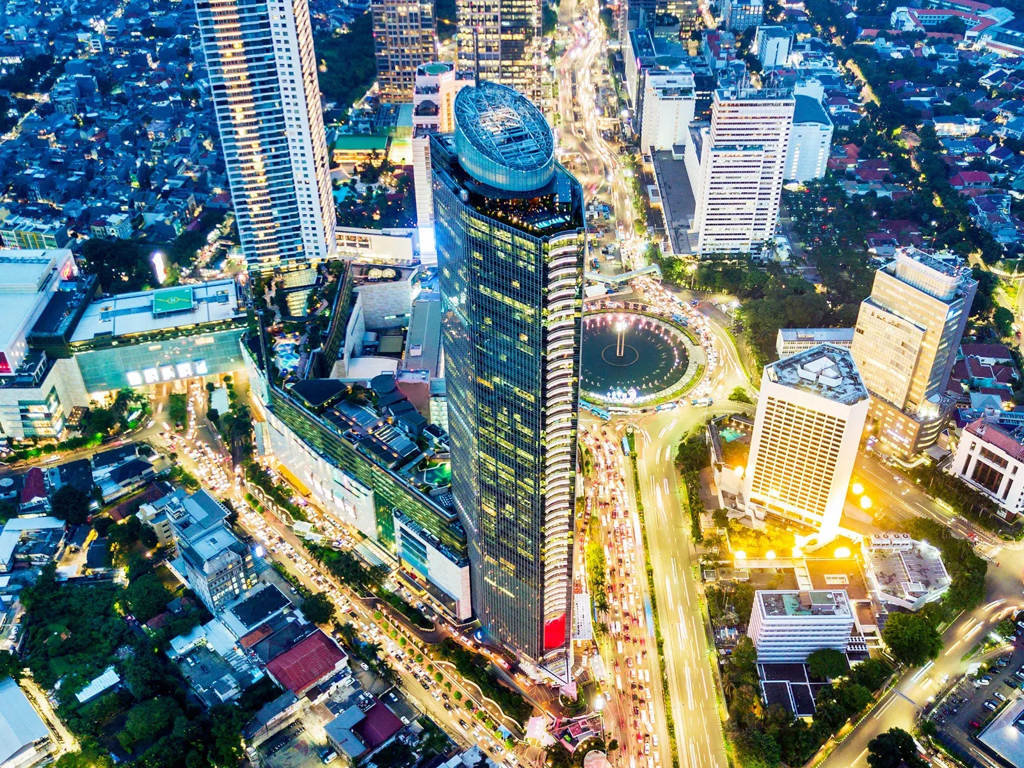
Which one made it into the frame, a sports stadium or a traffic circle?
traffic circle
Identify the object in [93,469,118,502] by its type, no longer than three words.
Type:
house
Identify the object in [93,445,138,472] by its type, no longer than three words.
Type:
house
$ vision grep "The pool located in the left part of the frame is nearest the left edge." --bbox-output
[274,339,301,375]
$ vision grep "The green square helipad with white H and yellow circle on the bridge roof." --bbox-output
[153,287,194,320]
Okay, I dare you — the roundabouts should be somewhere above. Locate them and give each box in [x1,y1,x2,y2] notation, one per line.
[578,276,766,450]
